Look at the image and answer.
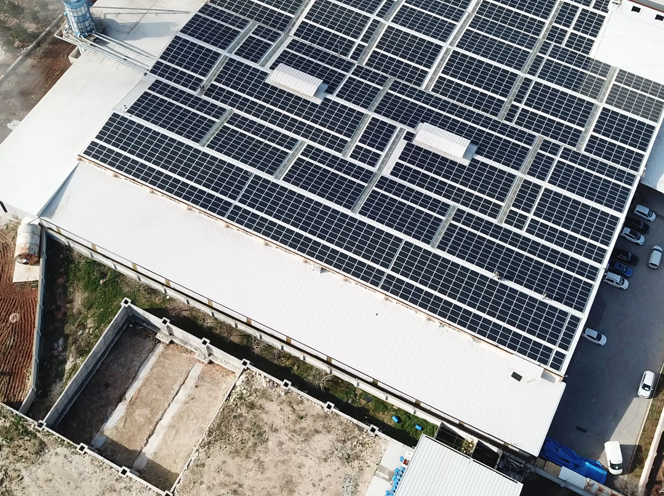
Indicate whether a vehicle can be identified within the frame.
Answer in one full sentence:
Yes, looking at the shot, I can spot a vehicle.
